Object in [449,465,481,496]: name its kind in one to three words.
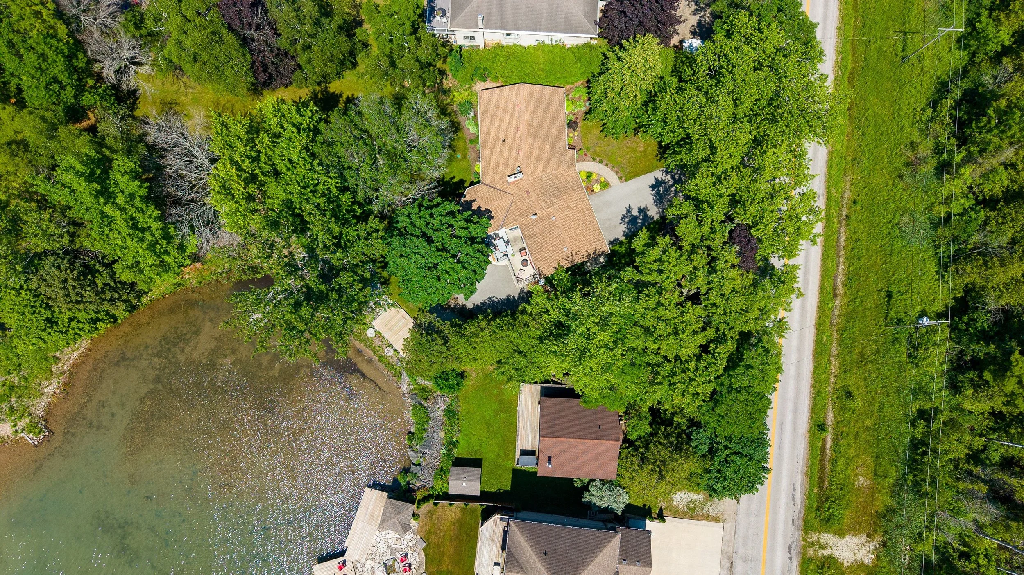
shed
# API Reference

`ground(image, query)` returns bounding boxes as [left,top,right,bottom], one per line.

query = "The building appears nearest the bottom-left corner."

[378,494,417,536]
